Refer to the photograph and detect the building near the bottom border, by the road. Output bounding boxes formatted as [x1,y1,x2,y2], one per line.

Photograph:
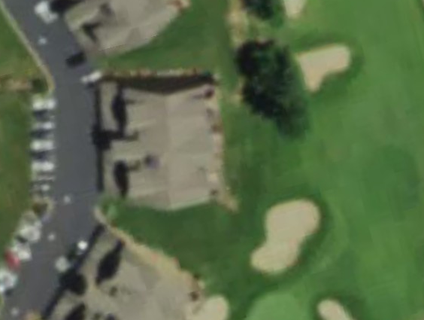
[51,228,206,320]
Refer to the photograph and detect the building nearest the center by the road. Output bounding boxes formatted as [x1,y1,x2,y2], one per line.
[95,64,222,196]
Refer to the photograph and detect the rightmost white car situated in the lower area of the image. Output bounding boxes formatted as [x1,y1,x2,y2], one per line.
[78,238,90,255]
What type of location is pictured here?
golf course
